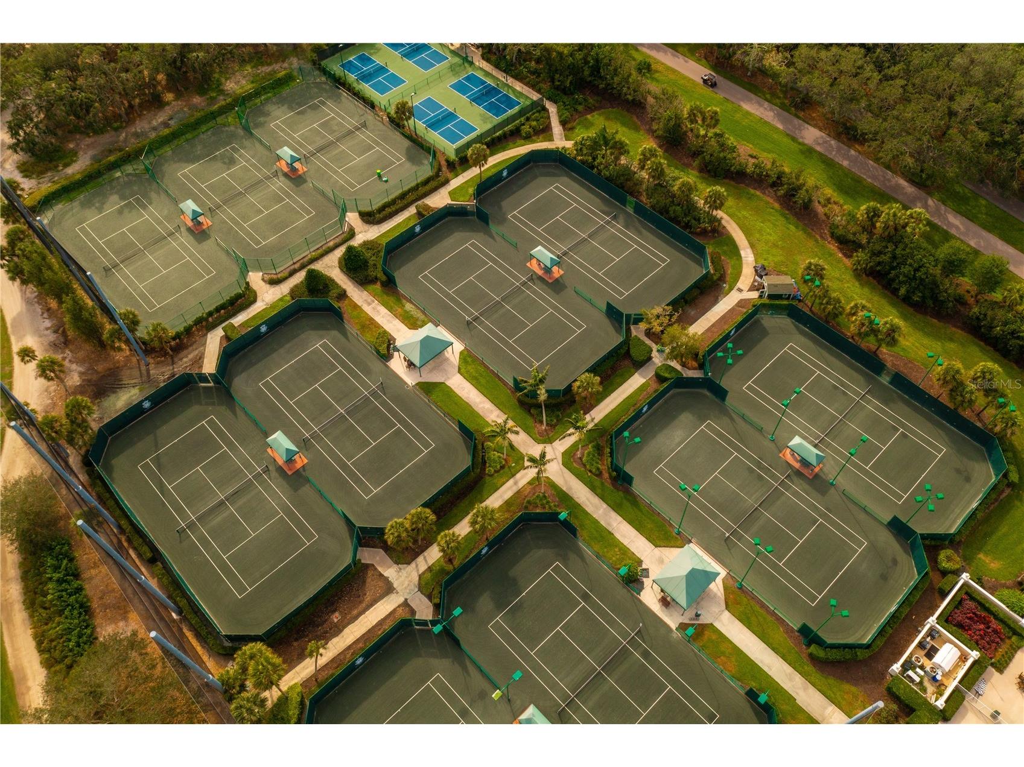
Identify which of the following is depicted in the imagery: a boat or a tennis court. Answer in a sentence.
It is a tennis court that can be seen here.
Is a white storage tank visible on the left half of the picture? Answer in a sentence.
No, looking on the left half of the picture, there is no white storage tank.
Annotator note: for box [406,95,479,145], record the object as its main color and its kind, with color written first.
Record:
blue sports court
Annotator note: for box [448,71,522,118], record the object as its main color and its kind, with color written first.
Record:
blue sports court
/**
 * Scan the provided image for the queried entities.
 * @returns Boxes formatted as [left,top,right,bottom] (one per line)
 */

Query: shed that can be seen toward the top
[755,280,791,304]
